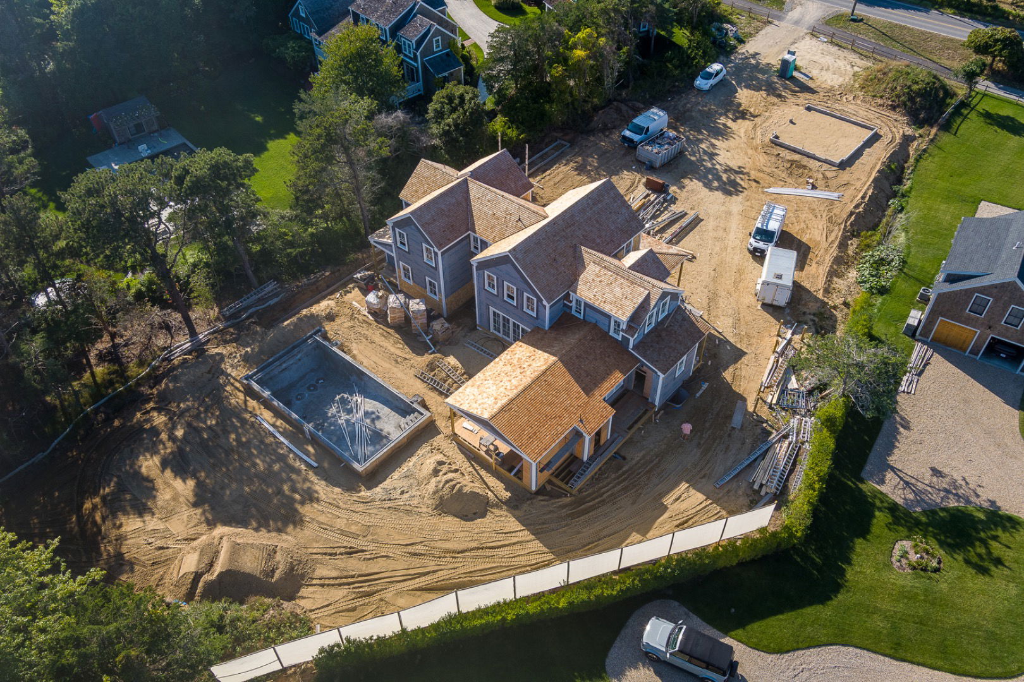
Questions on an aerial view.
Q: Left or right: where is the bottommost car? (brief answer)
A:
right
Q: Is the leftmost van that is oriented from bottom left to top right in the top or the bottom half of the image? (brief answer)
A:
top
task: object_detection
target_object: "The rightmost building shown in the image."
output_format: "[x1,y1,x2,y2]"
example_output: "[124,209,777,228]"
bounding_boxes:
[916,215,1024,376]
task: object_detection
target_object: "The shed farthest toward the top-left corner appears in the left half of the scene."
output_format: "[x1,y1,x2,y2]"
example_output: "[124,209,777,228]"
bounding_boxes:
[98,95,160,143]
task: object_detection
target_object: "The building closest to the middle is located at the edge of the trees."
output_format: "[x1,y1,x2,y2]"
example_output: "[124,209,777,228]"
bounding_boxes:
[369,150,720,492]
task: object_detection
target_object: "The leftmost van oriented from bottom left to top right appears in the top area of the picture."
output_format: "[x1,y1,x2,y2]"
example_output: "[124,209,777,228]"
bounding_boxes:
[621,96,674,144]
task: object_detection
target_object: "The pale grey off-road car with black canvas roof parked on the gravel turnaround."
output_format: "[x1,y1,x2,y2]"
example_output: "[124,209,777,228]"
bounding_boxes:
[636,610,740,682]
